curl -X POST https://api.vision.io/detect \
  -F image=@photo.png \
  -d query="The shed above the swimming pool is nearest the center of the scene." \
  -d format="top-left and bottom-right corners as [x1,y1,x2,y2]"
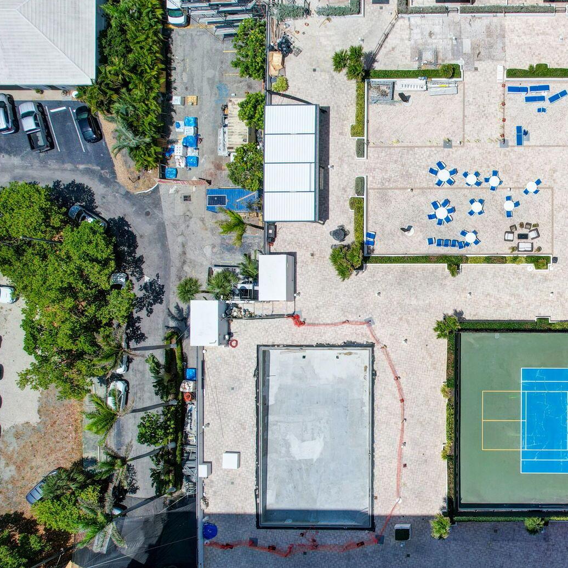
[259,254,294,300]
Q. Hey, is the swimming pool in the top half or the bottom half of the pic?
bottom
